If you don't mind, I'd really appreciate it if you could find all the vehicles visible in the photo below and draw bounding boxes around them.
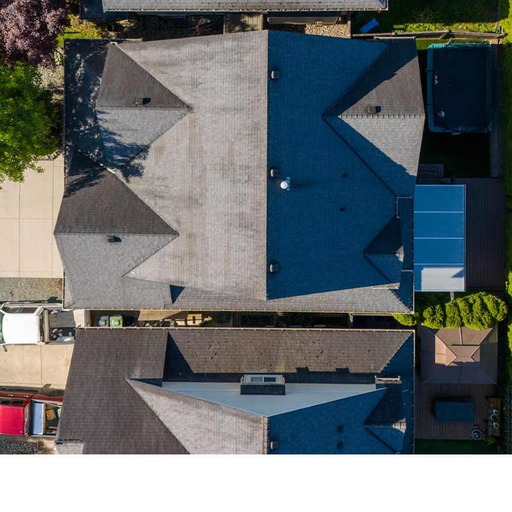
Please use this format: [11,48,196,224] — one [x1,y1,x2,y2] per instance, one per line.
[0,302,74,343]
[0,388,66,432]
